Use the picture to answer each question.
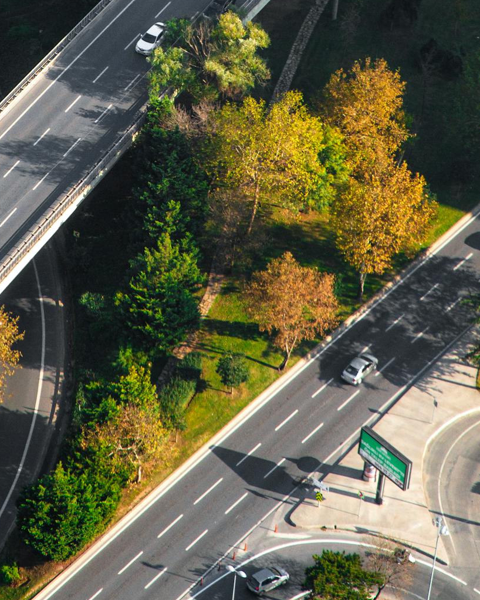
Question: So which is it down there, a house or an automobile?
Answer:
automobile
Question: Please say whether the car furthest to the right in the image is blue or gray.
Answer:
gray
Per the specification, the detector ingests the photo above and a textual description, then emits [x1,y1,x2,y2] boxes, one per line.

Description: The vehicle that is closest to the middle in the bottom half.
[340,353,381,386]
